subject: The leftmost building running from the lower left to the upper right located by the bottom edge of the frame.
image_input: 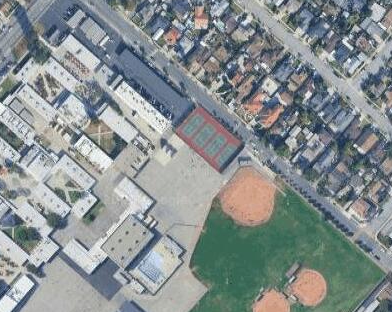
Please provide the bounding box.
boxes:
[0,276,35,312]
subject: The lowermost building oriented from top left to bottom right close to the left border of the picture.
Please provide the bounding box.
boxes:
[0,234,28,267]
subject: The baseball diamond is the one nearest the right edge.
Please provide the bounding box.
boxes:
[286,268,327,306]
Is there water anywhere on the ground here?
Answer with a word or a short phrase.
No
